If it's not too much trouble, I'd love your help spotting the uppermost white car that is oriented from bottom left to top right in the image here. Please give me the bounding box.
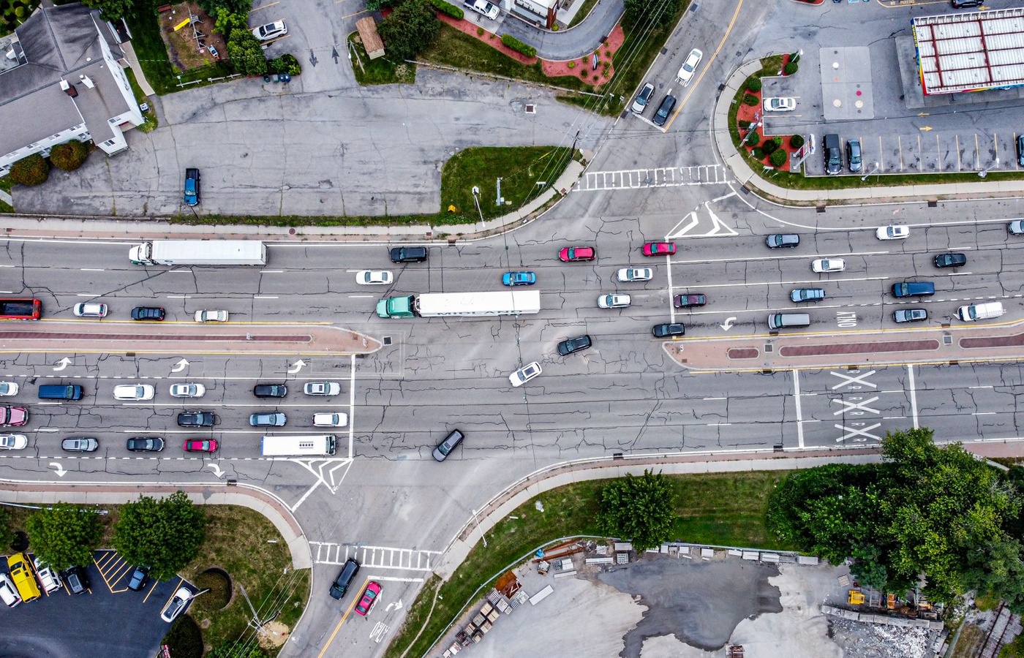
[674,46,705,86]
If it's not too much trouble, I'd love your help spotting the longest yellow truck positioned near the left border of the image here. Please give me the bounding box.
[8,552,44,605]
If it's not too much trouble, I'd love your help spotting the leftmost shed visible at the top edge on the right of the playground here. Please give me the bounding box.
[356,16,385,60]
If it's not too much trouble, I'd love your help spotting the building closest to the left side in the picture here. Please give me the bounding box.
[0,2,142,174]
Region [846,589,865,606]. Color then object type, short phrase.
yellow work vehicle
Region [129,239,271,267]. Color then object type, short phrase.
white truck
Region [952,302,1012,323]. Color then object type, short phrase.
white vehicle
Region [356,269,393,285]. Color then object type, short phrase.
white car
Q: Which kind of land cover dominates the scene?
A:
paved ground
